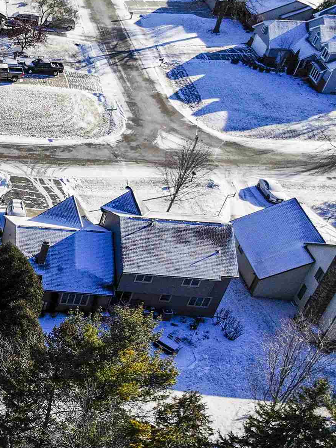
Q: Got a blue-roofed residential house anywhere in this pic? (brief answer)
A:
Yes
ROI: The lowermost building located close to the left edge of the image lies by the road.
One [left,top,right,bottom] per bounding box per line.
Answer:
[2,179,126,313]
